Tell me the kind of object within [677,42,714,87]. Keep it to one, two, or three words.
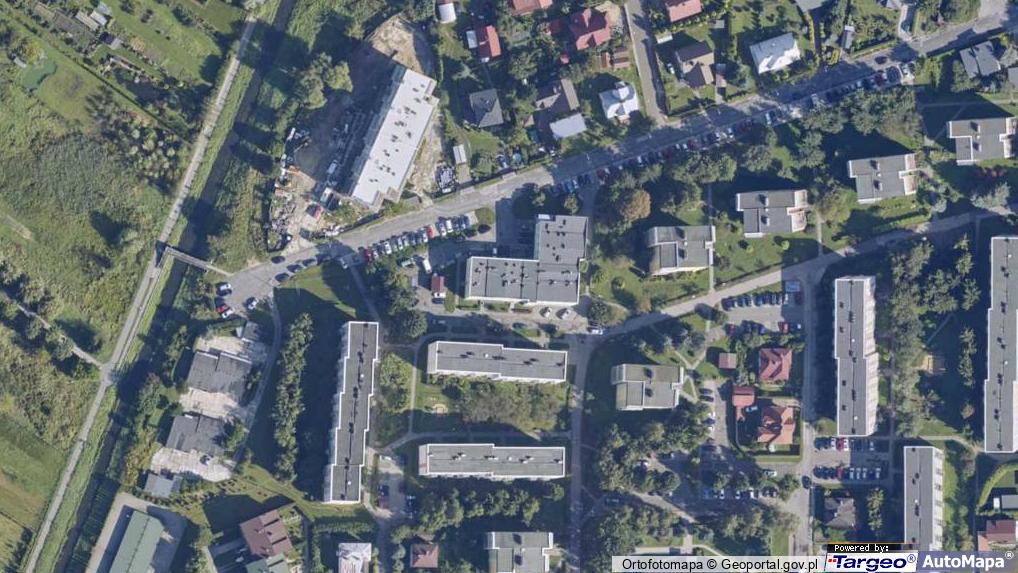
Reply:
house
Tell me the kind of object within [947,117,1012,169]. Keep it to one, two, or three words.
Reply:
building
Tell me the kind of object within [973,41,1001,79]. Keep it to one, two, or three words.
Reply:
house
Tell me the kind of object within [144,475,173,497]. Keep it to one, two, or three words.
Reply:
building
